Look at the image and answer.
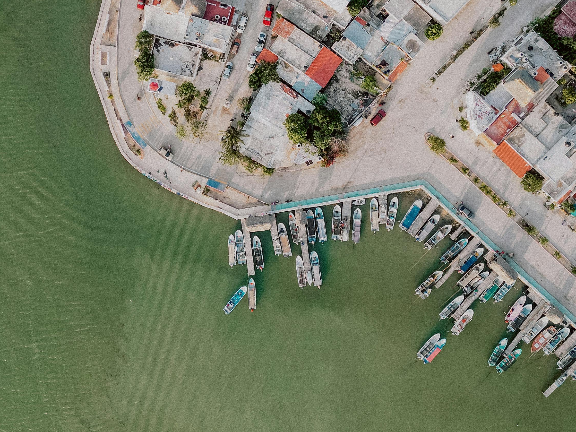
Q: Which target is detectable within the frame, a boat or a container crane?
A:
boat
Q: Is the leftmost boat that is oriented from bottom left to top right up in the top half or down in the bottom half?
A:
bottom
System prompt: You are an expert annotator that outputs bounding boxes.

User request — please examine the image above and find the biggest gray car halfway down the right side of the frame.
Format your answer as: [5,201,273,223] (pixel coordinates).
[456,203,474,220]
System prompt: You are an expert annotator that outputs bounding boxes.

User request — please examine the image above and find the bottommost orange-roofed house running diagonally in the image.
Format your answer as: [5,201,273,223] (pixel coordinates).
[491,141,532,177]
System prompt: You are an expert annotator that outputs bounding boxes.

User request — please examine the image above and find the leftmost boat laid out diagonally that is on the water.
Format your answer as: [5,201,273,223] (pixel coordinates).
[224,286,247,314]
